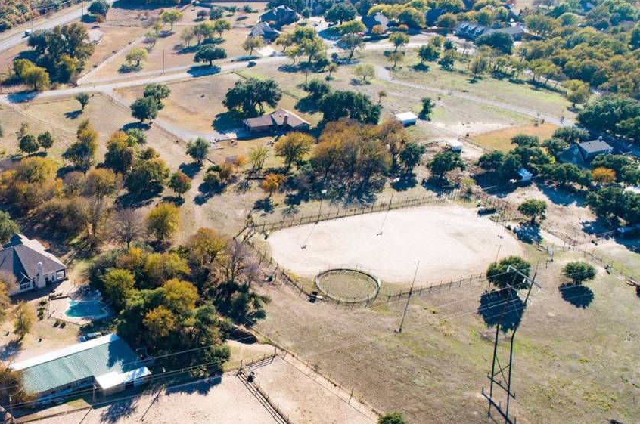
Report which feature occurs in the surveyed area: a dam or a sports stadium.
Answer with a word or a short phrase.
sports stadium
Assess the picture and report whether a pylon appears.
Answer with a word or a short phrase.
Yes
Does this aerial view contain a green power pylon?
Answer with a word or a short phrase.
No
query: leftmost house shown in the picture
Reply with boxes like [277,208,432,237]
[0,233,66,294]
